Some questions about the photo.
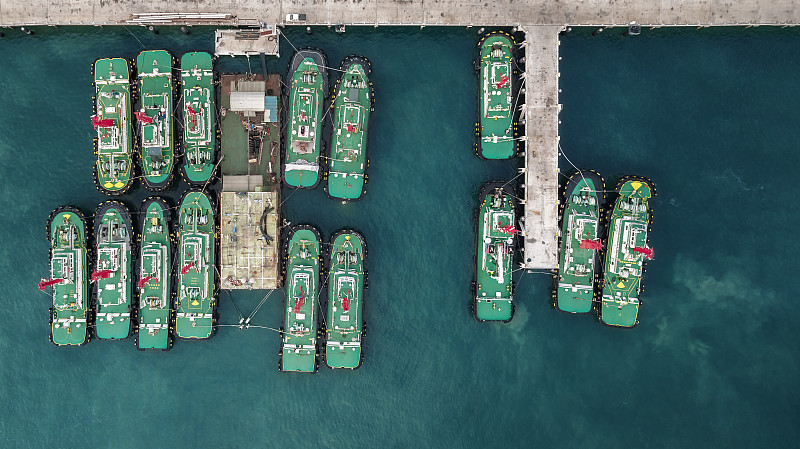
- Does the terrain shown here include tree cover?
No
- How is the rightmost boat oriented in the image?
up and down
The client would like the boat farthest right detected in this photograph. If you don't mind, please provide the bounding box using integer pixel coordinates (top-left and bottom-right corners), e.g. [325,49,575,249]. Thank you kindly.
[597,175,662,331]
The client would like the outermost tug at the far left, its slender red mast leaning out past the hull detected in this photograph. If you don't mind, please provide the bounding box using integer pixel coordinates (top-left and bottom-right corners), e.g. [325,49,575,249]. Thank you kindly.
[34,204,93,348]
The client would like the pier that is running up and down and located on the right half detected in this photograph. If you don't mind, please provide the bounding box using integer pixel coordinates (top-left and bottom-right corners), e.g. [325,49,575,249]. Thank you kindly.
[516,27,565,272]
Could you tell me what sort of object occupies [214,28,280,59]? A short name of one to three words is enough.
pier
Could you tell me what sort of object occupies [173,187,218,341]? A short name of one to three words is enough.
boat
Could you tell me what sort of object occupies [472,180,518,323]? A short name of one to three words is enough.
boat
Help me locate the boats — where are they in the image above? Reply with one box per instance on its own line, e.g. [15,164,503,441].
[84,56,137,200]
[278,223,325,376]
[34,204,93,348]
[597,175,662,331]
[282,45,329,191]
[82,198,137,341]
[473,27,519,162]
[130,47,180,194]
[127,194,176,351]
[323,226,367,371]
[327,52,375,205]
[553,166,608,315]
[173,187,218,341]
[472,180,518,323]
[177,50,220,188]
